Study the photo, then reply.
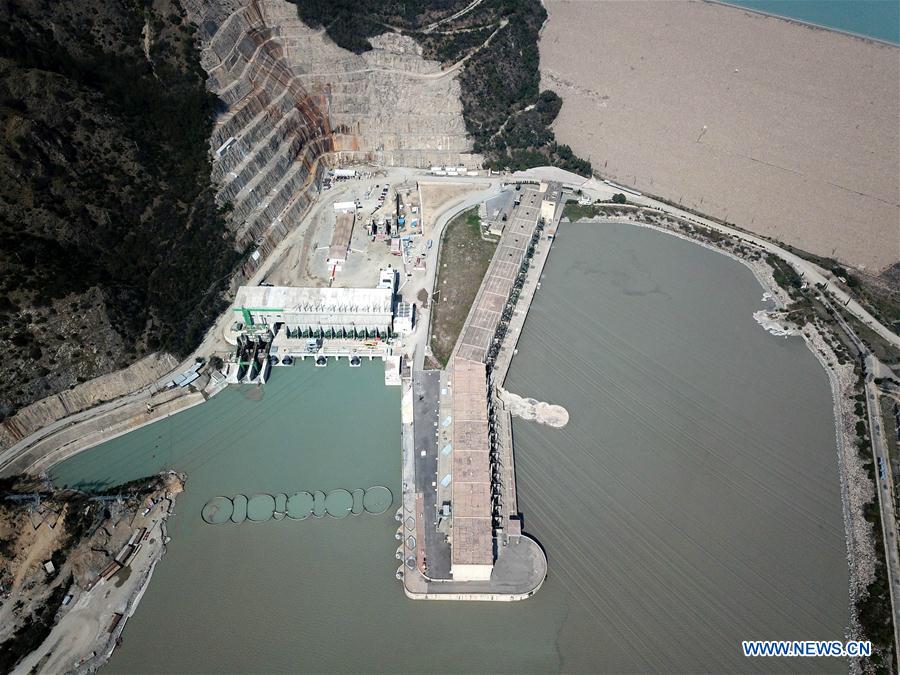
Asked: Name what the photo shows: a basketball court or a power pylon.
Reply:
power pylon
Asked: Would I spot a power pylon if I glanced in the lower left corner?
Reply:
Yes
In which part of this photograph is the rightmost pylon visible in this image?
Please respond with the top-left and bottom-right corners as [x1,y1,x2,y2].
[81,501,130,530]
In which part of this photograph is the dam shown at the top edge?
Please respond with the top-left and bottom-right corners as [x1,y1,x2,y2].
[540,0,900,265]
